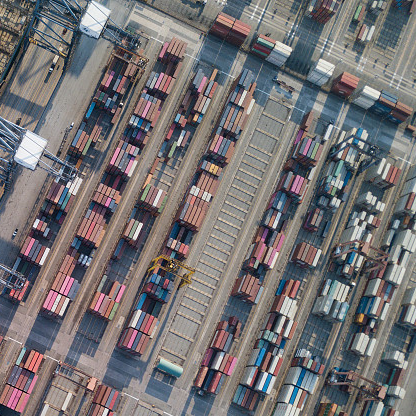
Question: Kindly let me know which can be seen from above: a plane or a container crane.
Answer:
container crane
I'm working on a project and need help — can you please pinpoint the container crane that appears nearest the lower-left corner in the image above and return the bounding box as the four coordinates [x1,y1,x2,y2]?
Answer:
[49,360,98,392]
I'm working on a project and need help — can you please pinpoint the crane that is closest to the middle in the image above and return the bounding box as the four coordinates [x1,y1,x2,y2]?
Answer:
[144,254,195,290]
